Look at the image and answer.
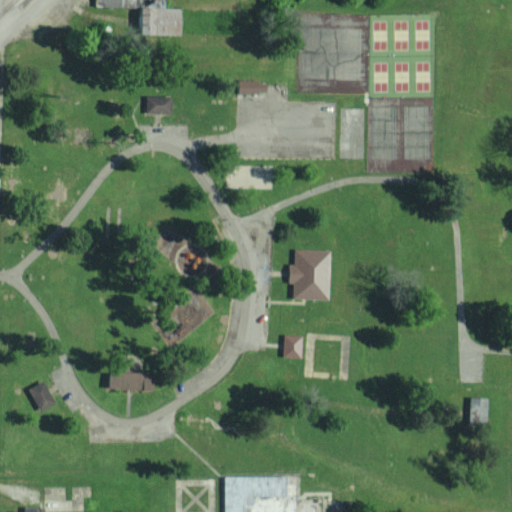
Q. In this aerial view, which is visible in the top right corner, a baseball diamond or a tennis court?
tennis court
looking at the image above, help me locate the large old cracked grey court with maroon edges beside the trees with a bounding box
[297,14,369,94]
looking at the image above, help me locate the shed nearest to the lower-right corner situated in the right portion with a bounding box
[470,398,490,424]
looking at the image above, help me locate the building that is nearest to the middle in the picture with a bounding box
[288,250,332,302]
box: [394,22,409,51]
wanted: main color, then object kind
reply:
white sports court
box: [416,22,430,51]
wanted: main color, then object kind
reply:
white sports court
